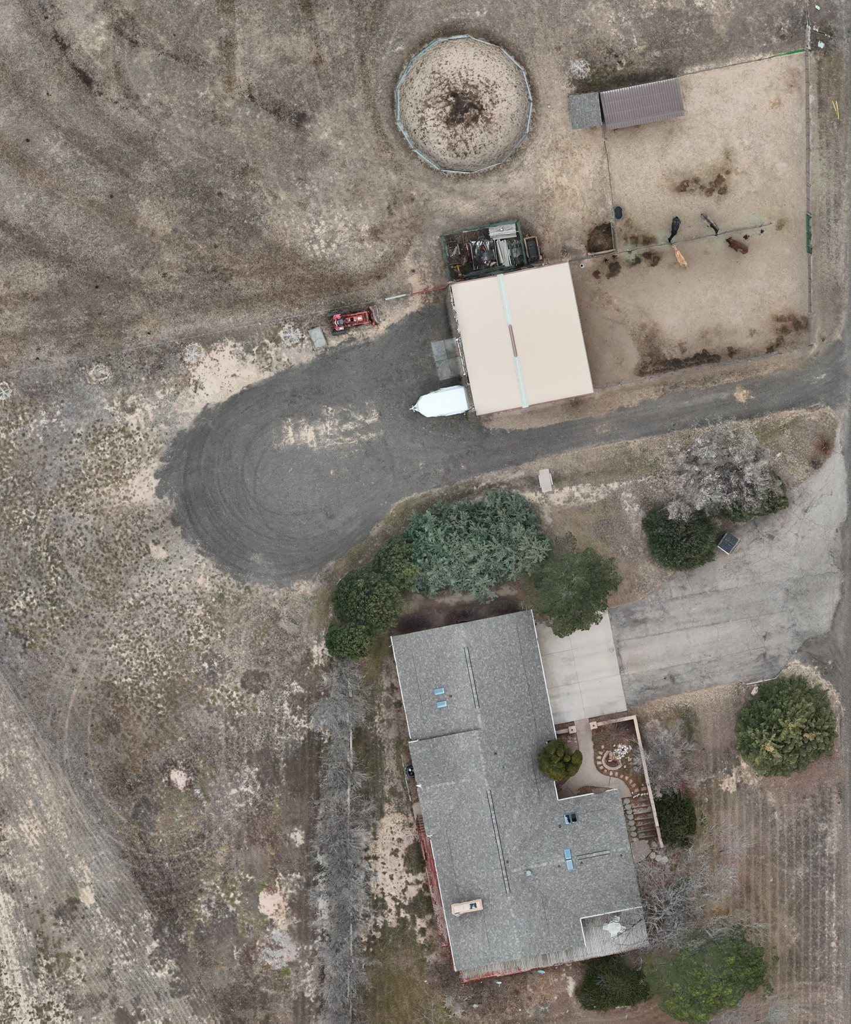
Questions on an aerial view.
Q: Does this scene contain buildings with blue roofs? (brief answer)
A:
No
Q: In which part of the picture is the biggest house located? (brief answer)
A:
bottom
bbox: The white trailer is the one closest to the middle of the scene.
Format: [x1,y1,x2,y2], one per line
[410,387,470,418]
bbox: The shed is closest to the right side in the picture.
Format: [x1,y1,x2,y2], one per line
[599,77,685,130]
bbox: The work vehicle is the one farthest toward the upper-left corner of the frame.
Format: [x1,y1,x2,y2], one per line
[331,309,379,336]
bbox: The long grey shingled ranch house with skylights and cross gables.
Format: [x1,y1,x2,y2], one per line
[390,610,642,971]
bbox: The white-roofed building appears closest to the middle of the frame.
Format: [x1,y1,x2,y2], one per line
[450,261,595,416]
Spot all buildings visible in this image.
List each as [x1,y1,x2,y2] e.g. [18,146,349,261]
[450,261,595,416]
[599,77,685,130]
[390,610,642,971]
